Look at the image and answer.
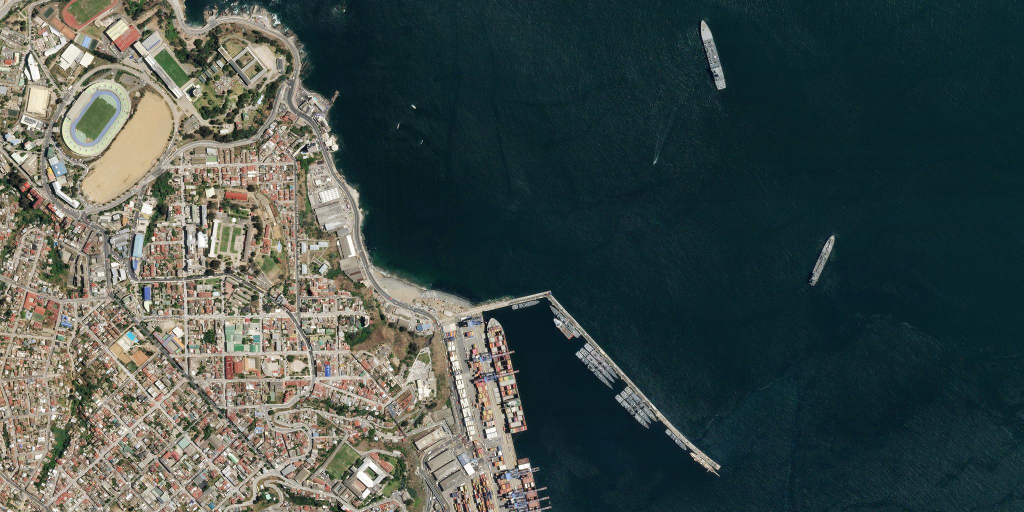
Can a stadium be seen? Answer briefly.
Yes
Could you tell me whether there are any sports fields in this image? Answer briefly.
Yes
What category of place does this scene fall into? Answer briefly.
port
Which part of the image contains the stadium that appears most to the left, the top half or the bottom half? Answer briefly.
top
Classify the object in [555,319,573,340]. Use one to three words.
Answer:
vessel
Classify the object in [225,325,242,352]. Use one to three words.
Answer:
building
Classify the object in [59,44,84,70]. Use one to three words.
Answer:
building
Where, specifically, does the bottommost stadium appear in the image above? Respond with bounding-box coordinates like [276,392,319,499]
[57,80,132,157]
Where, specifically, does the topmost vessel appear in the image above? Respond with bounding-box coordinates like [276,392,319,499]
[702,21,726,90]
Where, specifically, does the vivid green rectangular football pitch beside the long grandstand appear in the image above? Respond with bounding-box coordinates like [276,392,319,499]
[150,44,194,92]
